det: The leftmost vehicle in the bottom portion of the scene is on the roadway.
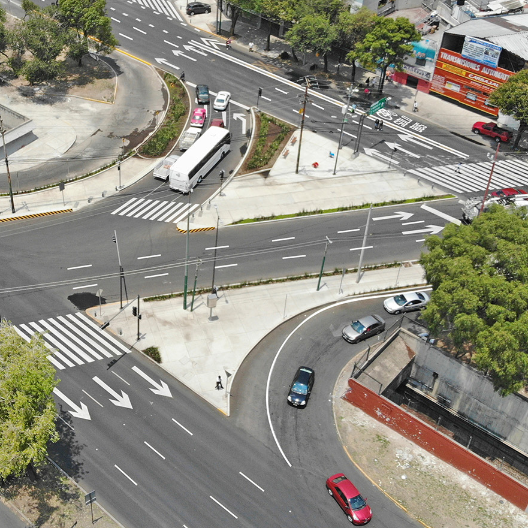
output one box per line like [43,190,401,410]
[286,366,316,411]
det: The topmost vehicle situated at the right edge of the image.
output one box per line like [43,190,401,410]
[468,122,517,145]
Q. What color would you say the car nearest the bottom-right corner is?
red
